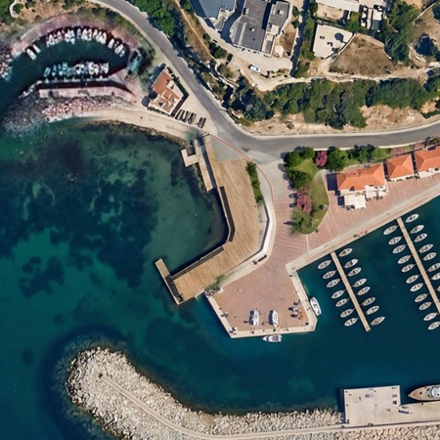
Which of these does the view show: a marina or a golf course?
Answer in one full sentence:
This looks like a marina.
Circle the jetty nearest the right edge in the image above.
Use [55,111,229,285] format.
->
[398,218,440,313]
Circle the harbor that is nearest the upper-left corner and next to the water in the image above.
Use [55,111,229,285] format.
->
[18,14,140,102]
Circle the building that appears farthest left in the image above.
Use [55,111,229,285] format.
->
[148,70,183,115]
